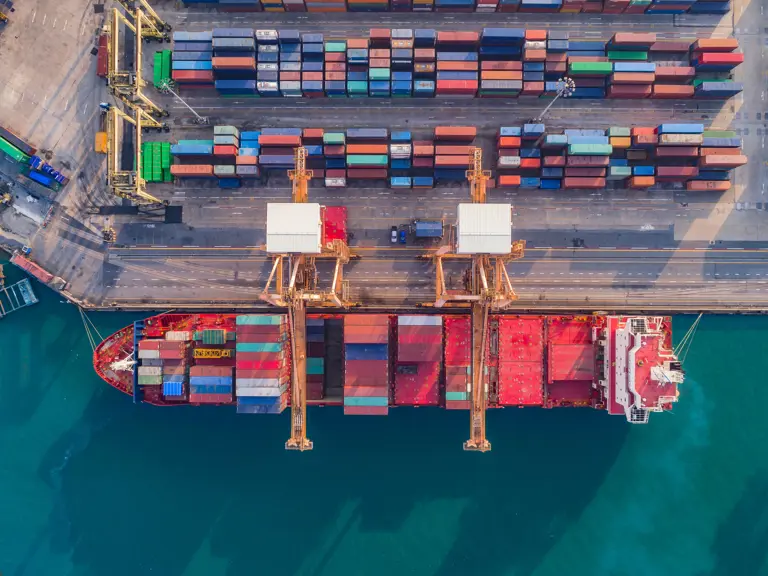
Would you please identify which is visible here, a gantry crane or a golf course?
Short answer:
gantry crane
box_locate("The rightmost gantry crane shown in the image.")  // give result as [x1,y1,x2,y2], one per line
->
[416,148,526,453]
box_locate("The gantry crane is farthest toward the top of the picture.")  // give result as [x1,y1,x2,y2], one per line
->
[114,0,170,29]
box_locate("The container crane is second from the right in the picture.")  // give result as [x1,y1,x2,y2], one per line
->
[256,147,361,452]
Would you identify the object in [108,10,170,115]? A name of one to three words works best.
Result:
container crane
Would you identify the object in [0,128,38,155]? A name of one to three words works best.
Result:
shipping container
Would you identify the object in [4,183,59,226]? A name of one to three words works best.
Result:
shed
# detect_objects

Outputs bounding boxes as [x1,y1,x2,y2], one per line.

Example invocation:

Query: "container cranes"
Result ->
[108,110,170,205]
[256,147,361,452]
[416,148,526,453]
[108,10,170,115]
[114,0,170,29]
